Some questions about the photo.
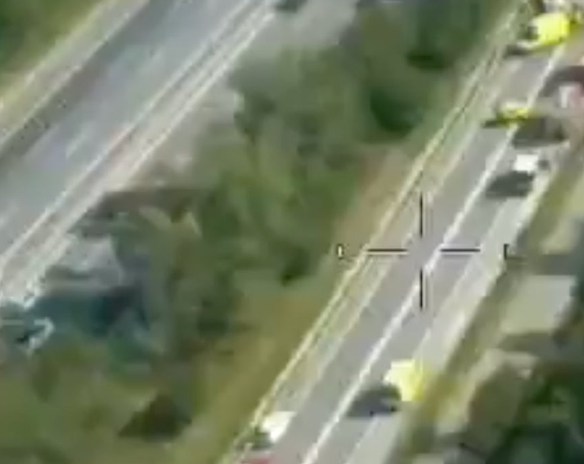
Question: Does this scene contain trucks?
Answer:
Yes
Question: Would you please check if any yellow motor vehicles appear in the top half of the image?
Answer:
Yes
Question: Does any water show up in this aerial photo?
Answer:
No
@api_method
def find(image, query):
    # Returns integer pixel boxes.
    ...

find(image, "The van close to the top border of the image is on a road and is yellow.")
[525,11,572,49]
